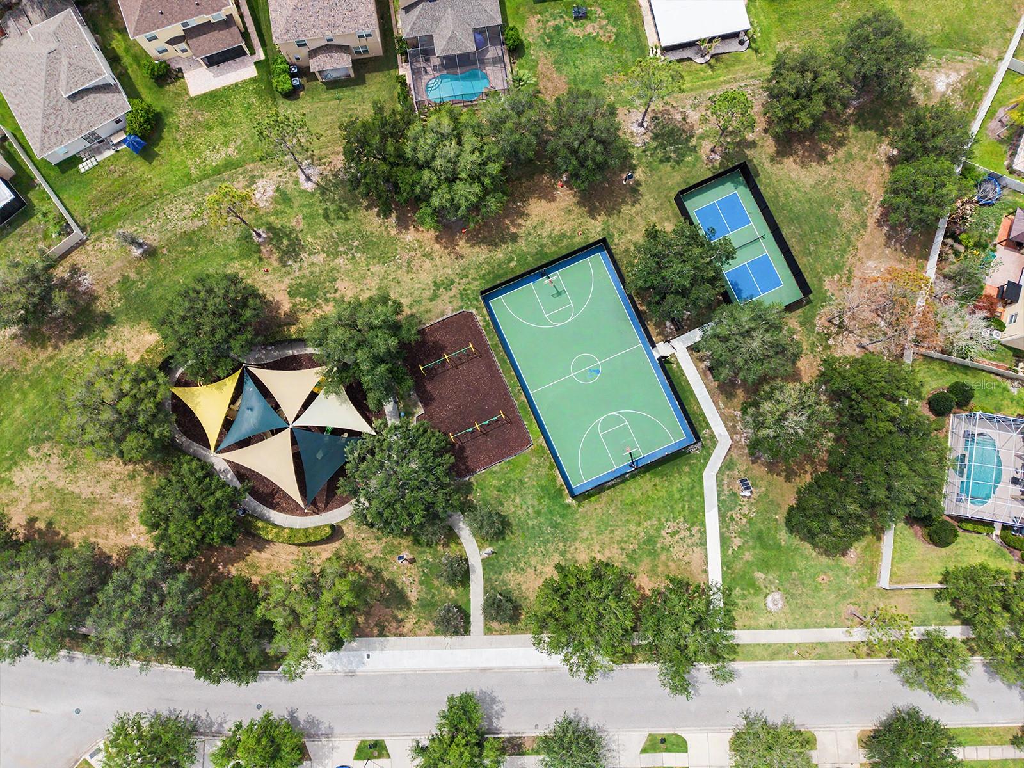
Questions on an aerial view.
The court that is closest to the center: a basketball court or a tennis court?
basketball court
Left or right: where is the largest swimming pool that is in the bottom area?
right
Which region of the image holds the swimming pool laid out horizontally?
top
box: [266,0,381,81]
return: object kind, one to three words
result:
house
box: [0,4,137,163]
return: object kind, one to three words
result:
house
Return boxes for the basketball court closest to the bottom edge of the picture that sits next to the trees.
[485,244,696,496]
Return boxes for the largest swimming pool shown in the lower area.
[957,423,1004,507]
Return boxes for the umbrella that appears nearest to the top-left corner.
[125,133,146,154]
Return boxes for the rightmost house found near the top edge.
[399,0,502,66]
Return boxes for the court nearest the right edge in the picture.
[688,171,805,315]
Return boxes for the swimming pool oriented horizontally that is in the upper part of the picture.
[425,67,492,104]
